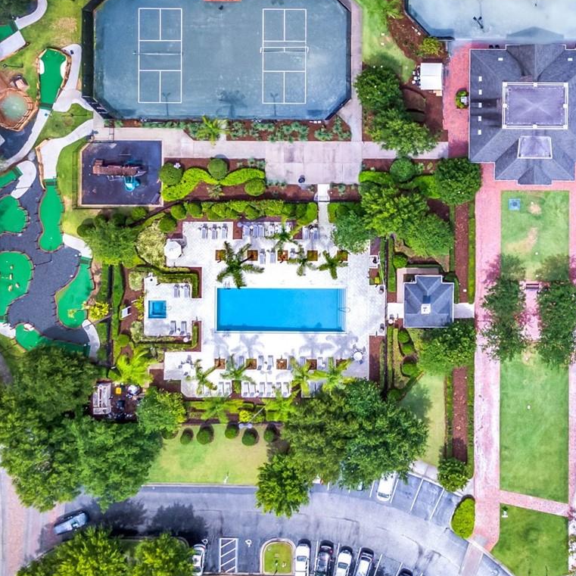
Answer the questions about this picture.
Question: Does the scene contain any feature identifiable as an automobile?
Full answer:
Yes, there's an automobile down there.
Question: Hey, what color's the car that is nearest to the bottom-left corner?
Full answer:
The car that is nearest to the bottom-left corner looks blue in the image.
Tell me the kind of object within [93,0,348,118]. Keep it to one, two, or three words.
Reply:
sports court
